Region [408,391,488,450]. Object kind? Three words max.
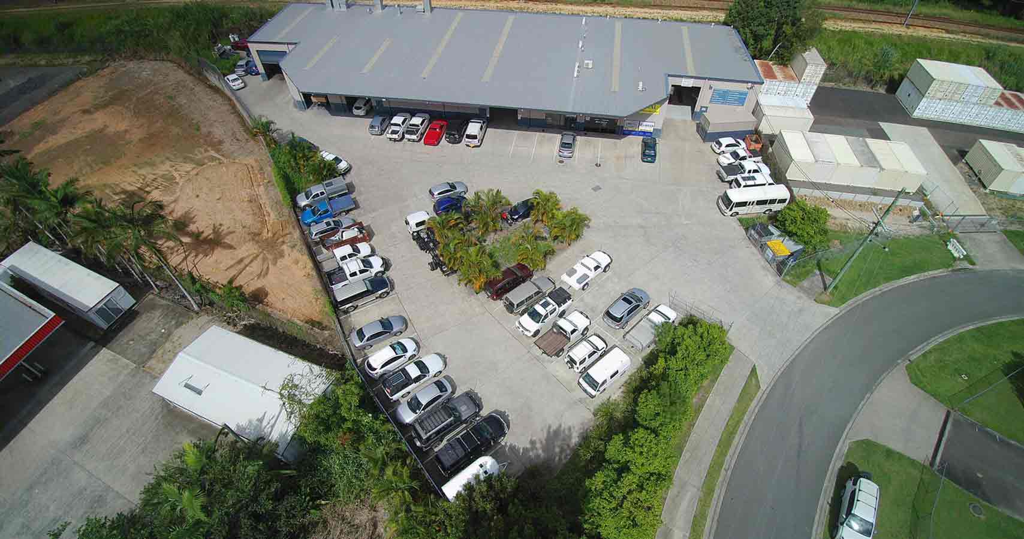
car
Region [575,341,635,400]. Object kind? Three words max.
van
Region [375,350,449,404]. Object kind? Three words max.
truck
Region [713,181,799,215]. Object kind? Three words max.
vehicle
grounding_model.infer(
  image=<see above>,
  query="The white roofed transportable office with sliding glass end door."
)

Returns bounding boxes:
[0,237,137,332]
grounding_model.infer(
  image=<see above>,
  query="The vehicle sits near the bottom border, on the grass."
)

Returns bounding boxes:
[838,476,893,539]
